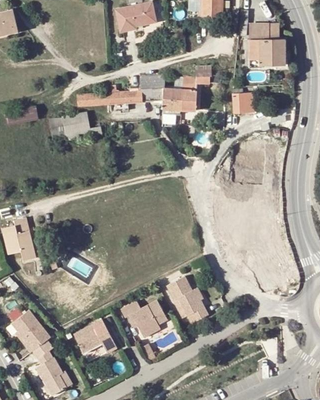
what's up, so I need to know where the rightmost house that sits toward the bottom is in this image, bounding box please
[166,278,208,324]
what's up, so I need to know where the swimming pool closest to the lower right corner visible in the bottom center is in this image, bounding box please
[152,328,180,352]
